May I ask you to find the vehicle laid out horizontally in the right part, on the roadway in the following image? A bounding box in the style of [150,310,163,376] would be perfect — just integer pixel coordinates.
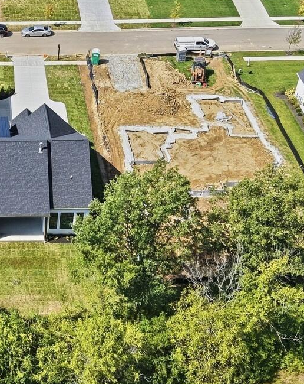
[176,36,218,50]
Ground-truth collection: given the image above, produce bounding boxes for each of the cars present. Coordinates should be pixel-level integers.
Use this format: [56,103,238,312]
[0,23,9,37]
[22,25,54,38]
